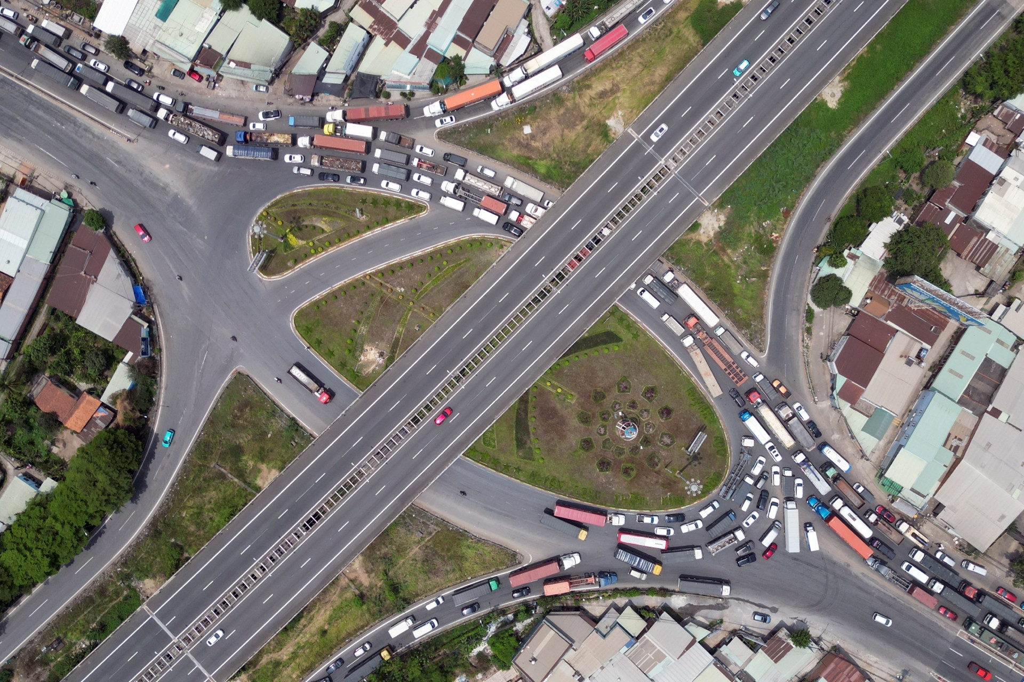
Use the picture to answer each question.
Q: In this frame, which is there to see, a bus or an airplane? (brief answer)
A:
bus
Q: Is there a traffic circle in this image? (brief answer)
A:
Yes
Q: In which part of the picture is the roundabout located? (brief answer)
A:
center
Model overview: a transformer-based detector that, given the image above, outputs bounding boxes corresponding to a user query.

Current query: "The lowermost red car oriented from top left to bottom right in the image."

[967,661,990,680]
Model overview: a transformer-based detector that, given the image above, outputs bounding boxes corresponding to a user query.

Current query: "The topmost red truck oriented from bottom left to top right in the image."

[581,27,629,64]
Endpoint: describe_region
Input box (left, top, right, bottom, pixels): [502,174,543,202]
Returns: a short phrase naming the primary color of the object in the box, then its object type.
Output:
white truck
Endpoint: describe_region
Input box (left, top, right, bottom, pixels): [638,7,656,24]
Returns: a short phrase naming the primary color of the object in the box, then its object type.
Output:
white car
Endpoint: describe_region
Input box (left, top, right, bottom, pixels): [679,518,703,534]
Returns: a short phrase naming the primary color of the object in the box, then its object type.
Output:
white vehicle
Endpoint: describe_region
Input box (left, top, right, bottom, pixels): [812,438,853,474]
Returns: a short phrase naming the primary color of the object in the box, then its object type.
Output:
white bus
